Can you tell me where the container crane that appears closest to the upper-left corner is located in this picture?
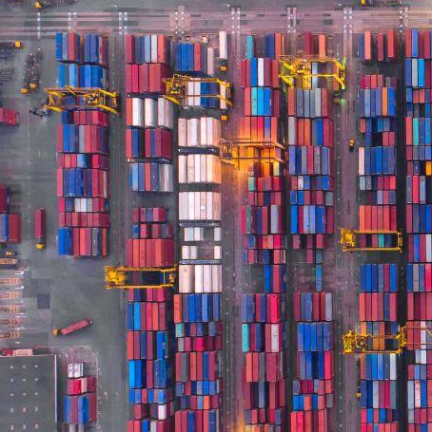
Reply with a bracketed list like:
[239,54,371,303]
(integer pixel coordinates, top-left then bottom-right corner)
[41,86,118,117]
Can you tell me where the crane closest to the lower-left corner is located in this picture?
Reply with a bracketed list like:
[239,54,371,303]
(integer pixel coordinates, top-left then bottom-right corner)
[110,264,183,289]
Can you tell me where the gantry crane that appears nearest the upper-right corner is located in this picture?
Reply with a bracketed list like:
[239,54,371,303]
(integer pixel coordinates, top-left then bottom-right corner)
[276,56,345,88]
